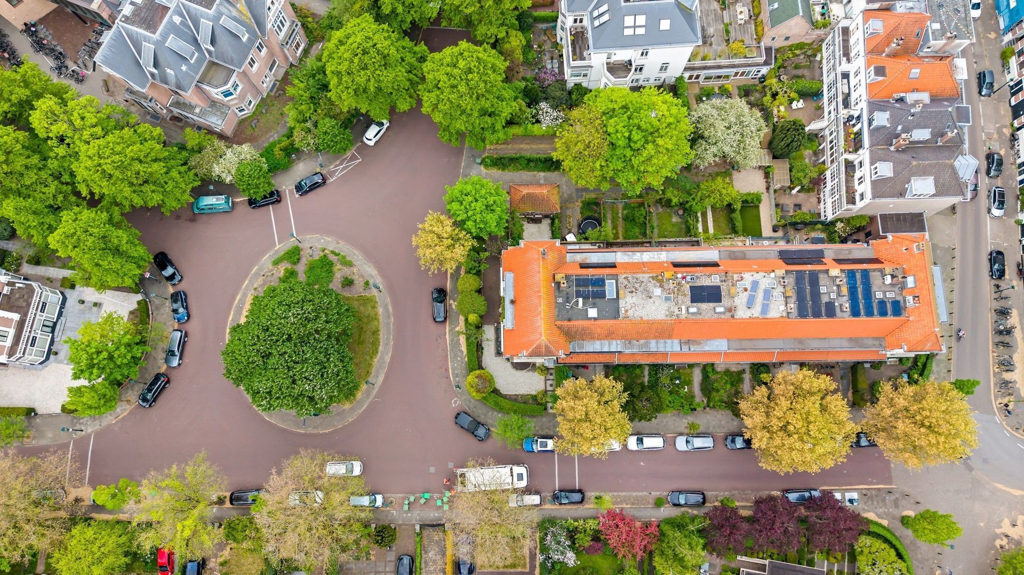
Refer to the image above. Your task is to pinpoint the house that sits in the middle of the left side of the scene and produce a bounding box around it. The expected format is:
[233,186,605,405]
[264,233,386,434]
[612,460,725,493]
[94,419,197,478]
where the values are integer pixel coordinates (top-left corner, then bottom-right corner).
[0,269,77,371]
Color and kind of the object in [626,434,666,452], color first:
white car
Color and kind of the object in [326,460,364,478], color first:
white car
